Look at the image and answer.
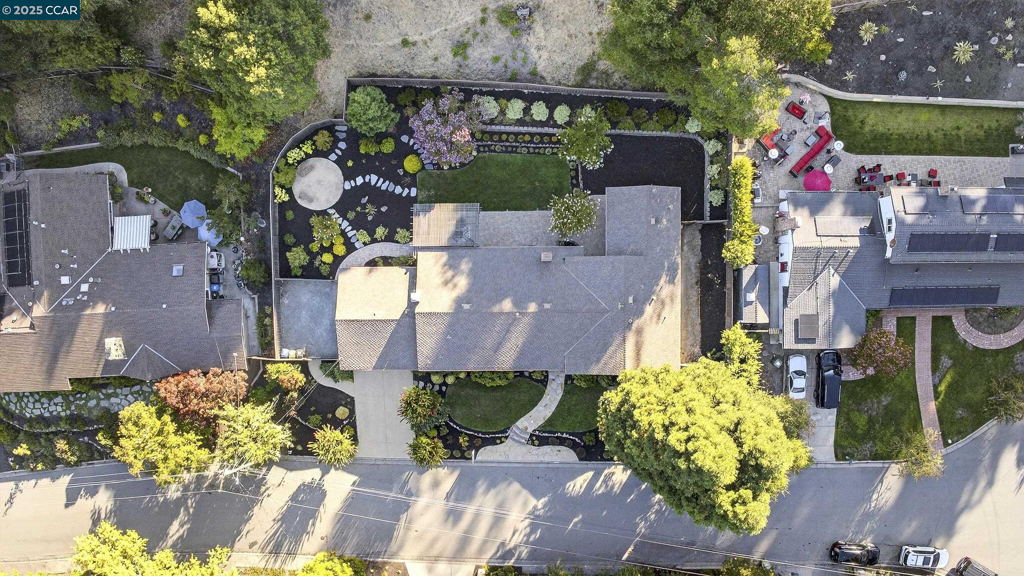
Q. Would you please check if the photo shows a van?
Yes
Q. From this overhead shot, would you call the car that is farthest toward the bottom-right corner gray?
Yes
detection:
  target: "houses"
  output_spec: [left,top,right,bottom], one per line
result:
[770,177,1024,349]
[0,173,254,393]
[336,186,682,375]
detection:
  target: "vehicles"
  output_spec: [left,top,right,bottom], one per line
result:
[788,353,813,400]
[831,542,884,570]
[957,554,1001,576]
[901,546,954,573]
[818,353,846,407]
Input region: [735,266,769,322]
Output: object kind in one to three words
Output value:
shed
